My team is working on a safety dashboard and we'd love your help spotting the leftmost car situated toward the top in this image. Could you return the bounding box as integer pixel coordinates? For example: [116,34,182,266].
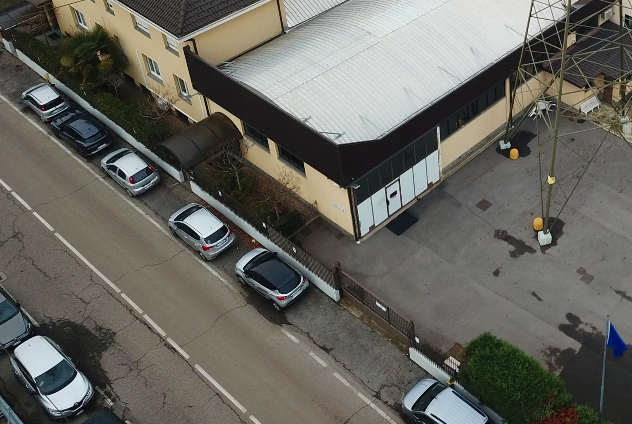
[21,80,74,122]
